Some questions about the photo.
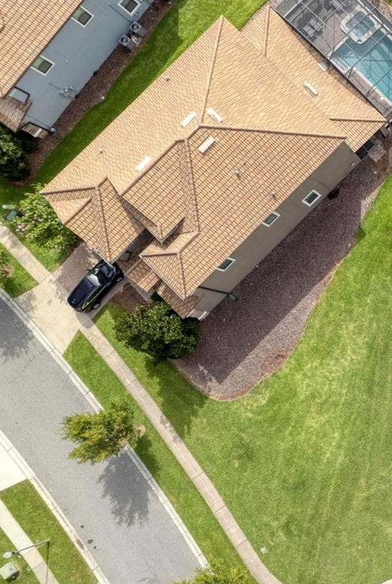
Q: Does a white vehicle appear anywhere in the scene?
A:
No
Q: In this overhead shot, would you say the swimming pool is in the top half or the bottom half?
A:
top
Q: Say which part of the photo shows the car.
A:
left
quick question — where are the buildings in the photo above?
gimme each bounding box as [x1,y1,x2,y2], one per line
[40,5,388,327]
[0,0,147,132]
